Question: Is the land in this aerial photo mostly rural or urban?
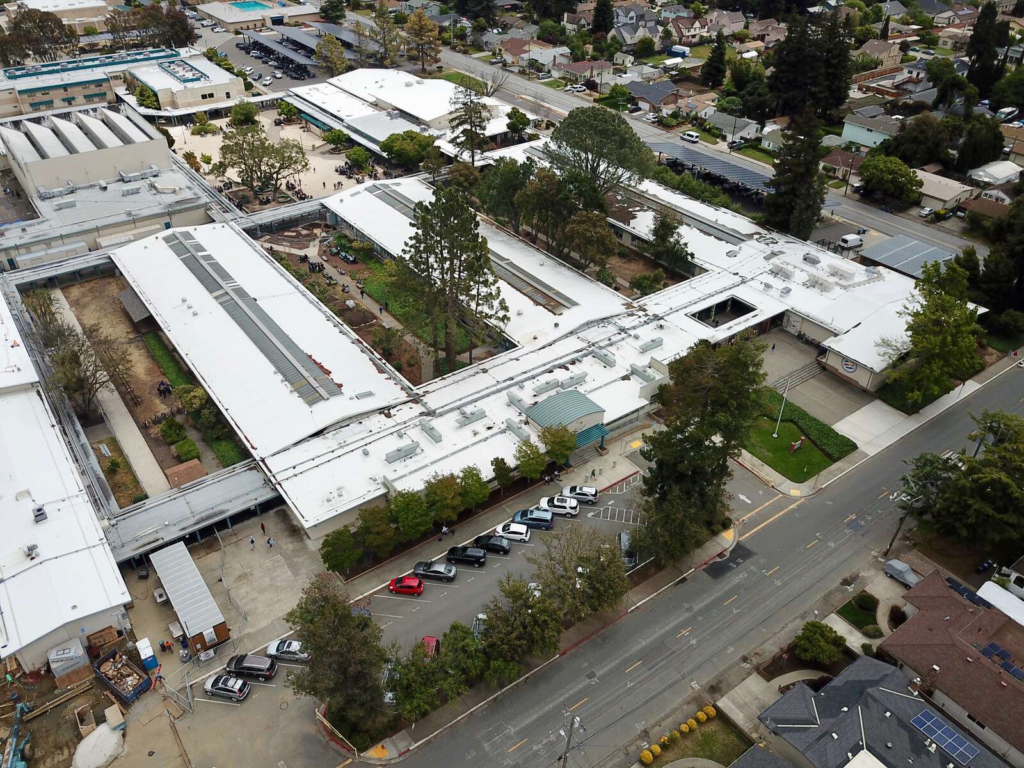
urban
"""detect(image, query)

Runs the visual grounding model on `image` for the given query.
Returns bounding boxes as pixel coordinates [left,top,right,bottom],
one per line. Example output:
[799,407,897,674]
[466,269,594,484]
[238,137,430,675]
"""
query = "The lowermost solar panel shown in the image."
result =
[910,709,980,766]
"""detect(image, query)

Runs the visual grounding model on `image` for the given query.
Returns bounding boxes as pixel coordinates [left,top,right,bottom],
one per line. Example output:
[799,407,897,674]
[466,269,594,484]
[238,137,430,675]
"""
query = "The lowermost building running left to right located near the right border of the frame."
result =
[756,655,1005,768]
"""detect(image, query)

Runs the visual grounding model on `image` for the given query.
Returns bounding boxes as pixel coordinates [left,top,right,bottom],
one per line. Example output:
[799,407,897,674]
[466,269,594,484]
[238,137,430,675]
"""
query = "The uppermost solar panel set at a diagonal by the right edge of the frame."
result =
[946,576,993,609]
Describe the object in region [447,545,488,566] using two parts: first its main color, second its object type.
black car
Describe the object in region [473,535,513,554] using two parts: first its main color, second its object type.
black car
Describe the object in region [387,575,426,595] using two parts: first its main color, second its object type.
red car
